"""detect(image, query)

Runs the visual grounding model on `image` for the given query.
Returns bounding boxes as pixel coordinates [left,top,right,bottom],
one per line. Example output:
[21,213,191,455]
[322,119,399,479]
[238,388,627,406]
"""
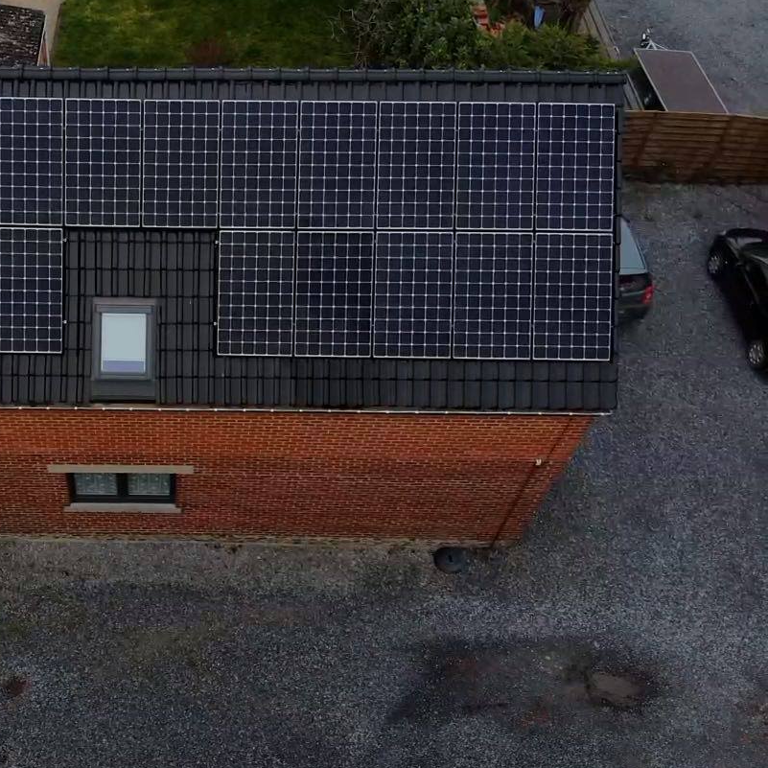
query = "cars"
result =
[709,234,768,373]
[617,207,657,325]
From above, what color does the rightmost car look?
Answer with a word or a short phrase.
black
